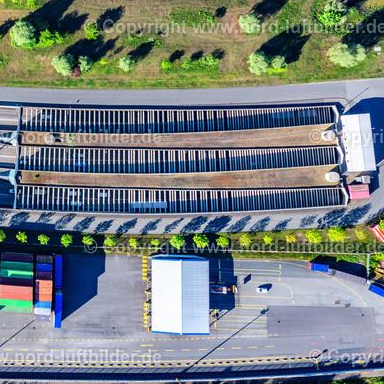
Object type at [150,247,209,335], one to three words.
shed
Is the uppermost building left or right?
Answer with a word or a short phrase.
right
